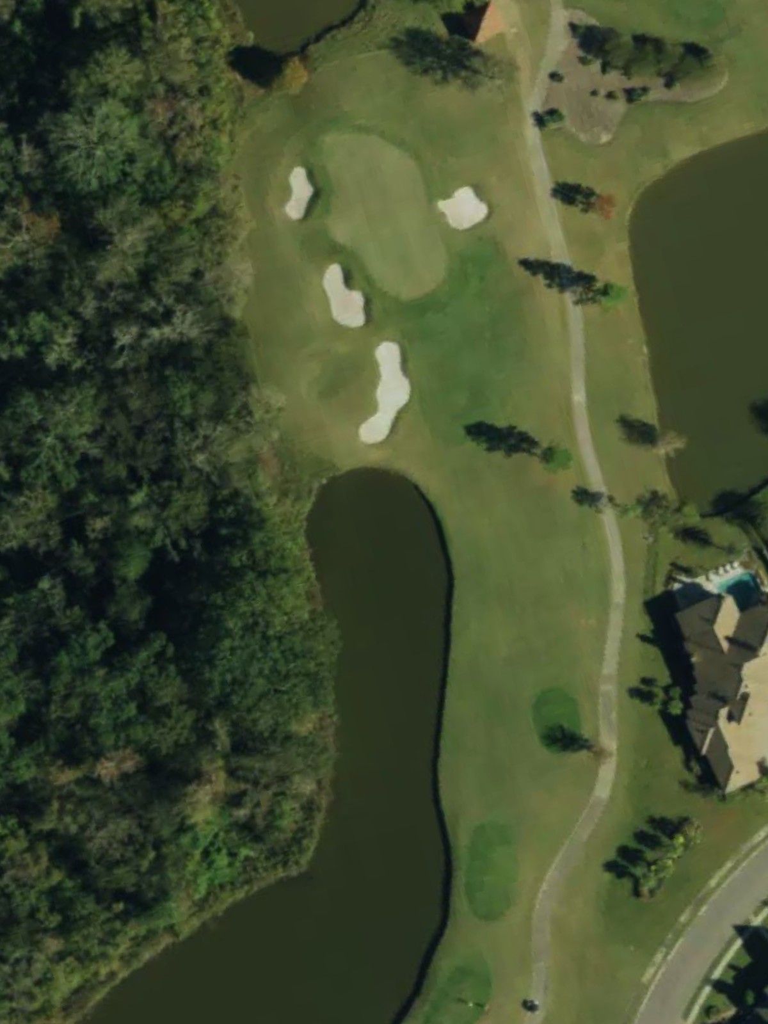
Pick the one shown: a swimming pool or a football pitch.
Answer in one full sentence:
There is a swimming pool in the scene.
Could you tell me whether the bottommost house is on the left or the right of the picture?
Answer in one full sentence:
The bottommost house sits on the right side.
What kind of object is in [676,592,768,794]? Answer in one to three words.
house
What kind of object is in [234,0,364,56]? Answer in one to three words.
pond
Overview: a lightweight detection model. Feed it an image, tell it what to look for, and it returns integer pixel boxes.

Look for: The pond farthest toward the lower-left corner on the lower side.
[82,468,450,1024]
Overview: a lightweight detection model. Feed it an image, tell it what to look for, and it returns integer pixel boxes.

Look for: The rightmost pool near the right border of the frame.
[716,571,762,608]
